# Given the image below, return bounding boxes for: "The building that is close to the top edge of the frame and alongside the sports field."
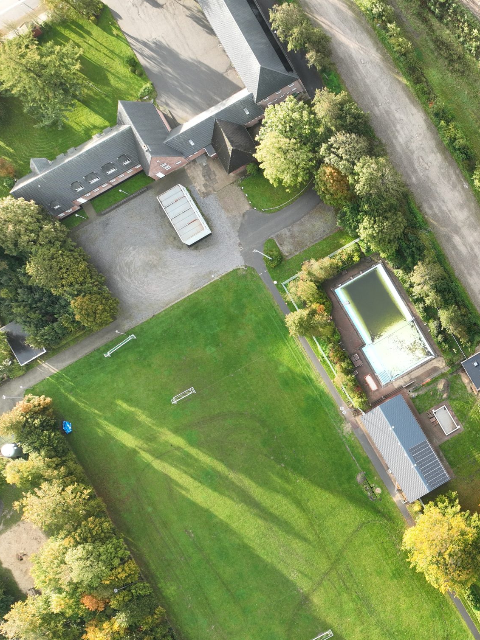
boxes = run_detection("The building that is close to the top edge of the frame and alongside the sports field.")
[8,0,305,225]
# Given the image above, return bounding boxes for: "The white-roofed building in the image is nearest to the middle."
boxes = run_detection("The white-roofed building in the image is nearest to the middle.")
[156,184,215,244]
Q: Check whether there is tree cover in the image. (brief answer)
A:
Yes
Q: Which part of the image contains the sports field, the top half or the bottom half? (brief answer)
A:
bottom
